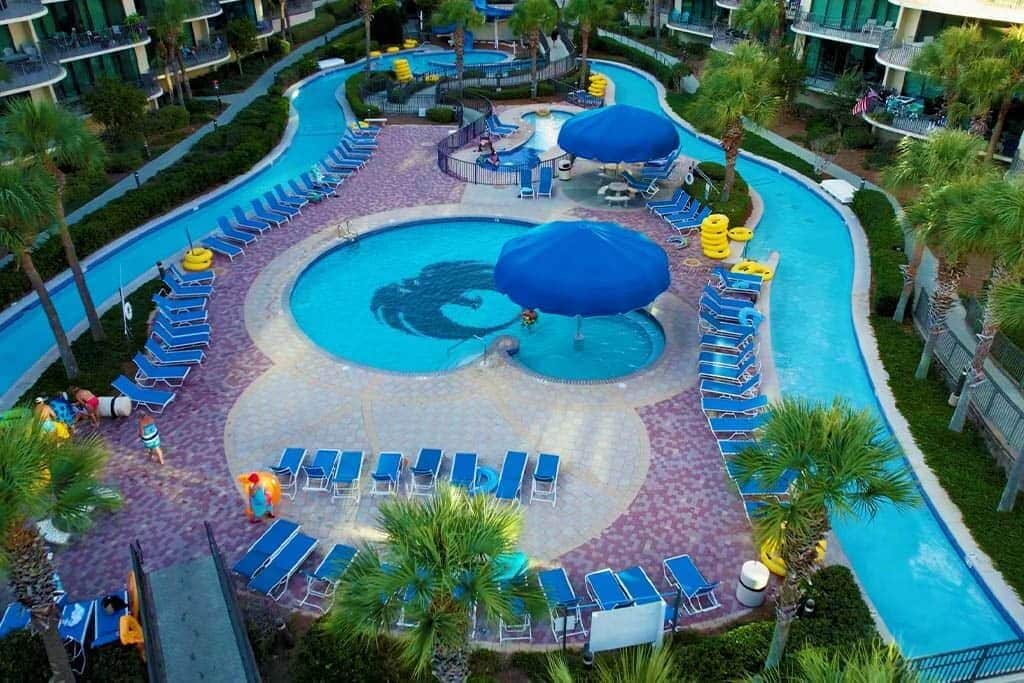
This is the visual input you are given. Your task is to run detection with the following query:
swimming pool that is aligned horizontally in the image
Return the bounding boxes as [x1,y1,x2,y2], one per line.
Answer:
[289,217,665,383]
